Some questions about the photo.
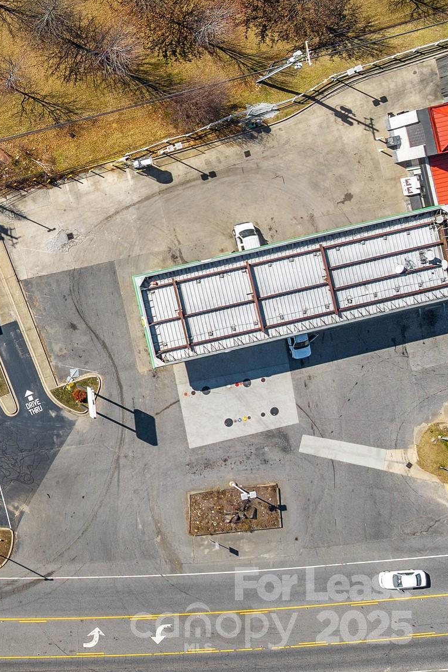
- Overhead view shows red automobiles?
No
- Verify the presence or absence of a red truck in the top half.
No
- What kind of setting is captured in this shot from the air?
industrial area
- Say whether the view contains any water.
No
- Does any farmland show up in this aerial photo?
No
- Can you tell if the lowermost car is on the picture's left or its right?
right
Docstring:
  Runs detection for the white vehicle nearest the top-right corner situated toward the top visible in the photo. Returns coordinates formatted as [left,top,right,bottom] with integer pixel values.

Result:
[231,219,259,250]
